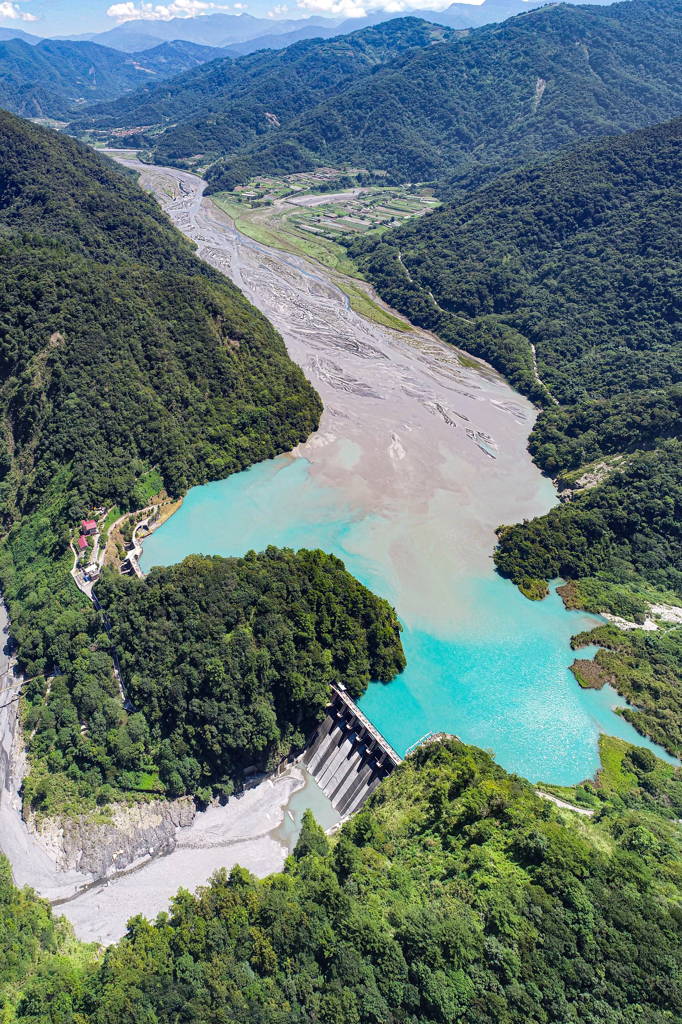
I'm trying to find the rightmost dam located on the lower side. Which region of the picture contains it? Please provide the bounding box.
[296,680,407,823]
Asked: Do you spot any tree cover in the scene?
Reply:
Yes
